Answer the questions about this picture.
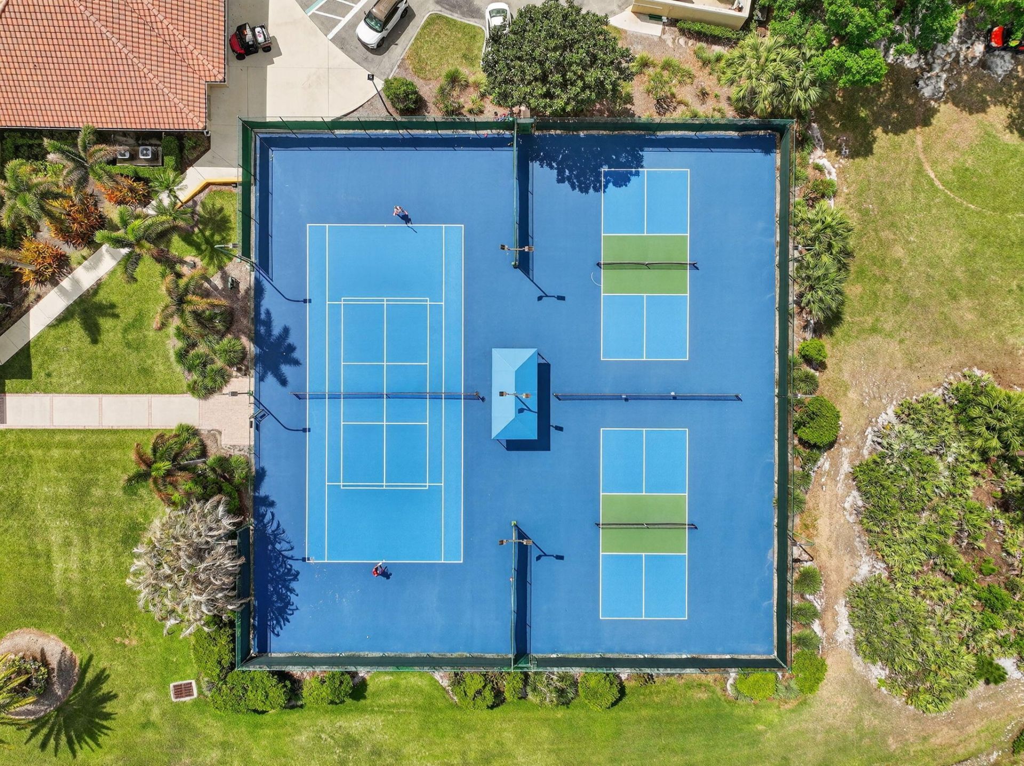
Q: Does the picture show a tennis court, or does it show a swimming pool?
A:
tennis court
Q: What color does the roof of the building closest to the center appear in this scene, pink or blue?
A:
blue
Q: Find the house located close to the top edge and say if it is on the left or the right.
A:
left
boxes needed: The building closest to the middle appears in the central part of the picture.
[491,349,537,440]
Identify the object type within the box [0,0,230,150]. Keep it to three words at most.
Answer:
house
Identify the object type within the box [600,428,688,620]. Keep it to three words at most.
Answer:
sports court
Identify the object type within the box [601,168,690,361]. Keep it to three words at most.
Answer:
sports court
